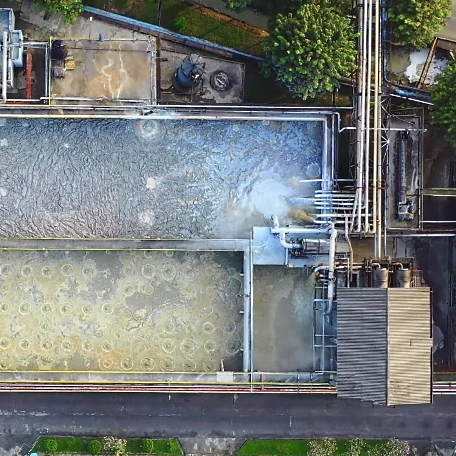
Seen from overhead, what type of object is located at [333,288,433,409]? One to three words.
shed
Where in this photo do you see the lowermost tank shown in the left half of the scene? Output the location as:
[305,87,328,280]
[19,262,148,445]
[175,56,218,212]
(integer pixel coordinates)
[155,60,205,101]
